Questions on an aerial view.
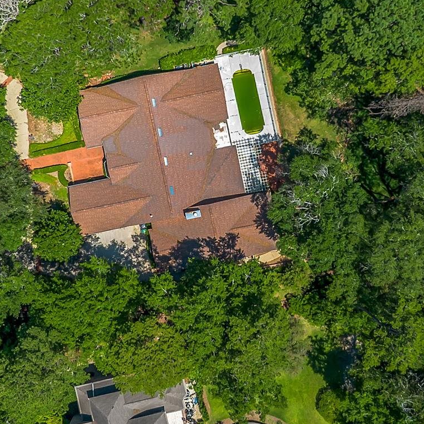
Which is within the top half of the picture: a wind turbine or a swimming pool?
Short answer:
swimming pool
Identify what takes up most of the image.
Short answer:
trees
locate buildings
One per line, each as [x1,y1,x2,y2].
[74,373,186,424]
[69,65,288,288]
